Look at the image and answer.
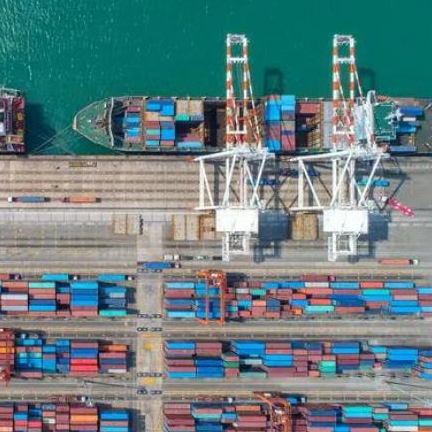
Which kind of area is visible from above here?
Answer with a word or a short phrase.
port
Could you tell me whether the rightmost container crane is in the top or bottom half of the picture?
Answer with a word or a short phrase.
top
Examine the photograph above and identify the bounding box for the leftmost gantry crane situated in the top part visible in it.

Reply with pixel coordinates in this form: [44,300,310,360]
[186,33,265,263]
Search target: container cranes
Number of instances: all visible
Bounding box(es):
[249,385,289,432]
[0,326,19,391]
[189,263,225,328]
[186,33,265,263]
[279,33,378,263]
